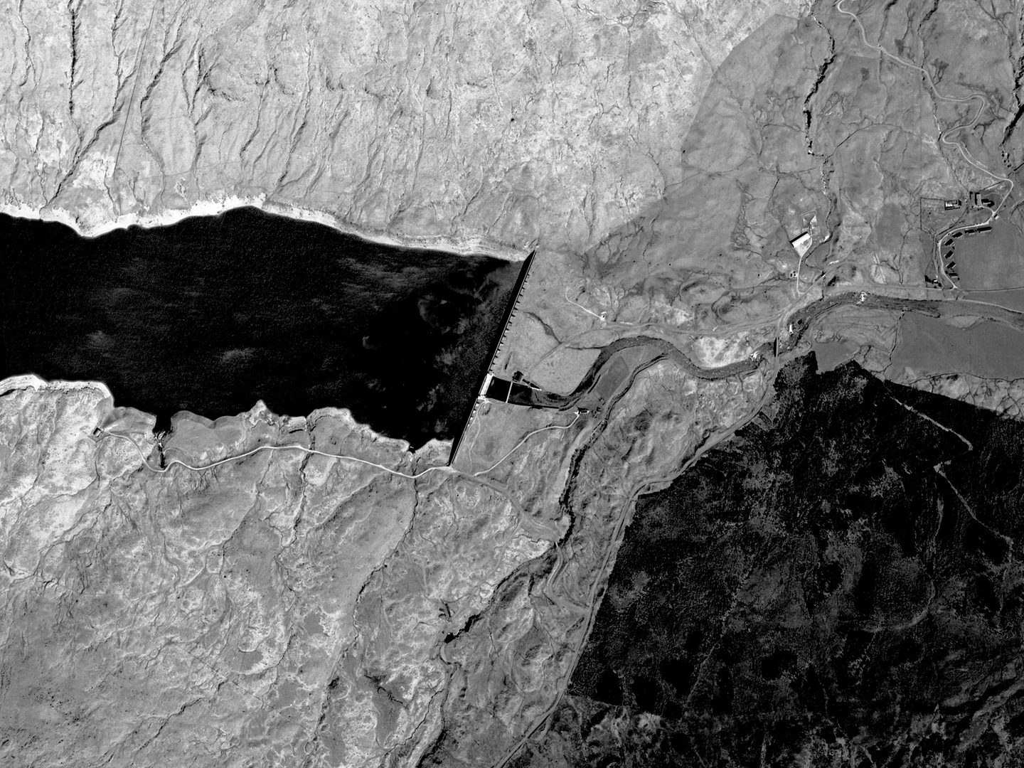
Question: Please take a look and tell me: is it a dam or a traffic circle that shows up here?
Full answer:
Of the two, only a dam appears.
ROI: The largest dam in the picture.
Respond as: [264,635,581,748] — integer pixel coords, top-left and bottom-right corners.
[450,250,536,466]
